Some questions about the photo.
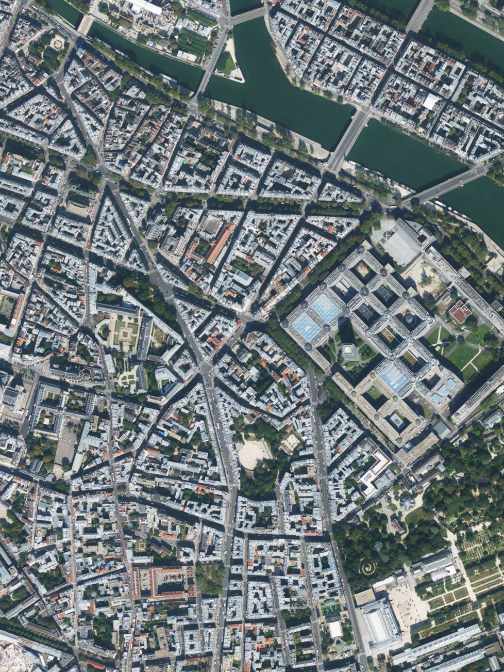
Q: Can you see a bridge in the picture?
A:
Yes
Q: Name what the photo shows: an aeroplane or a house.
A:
house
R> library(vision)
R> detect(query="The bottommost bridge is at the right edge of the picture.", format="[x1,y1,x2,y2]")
[399,158,495,210]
